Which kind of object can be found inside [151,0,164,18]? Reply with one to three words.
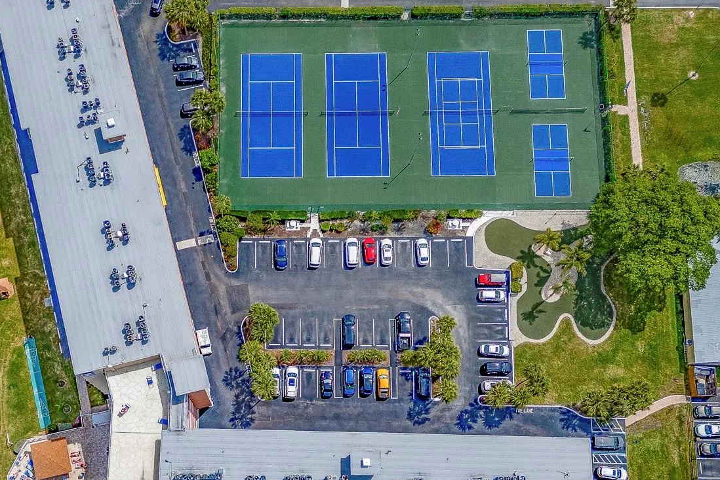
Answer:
vehicle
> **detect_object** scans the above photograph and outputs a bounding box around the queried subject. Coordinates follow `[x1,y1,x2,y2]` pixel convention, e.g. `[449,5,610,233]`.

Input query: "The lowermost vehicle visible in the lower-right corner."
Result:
[595,466,625,480]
